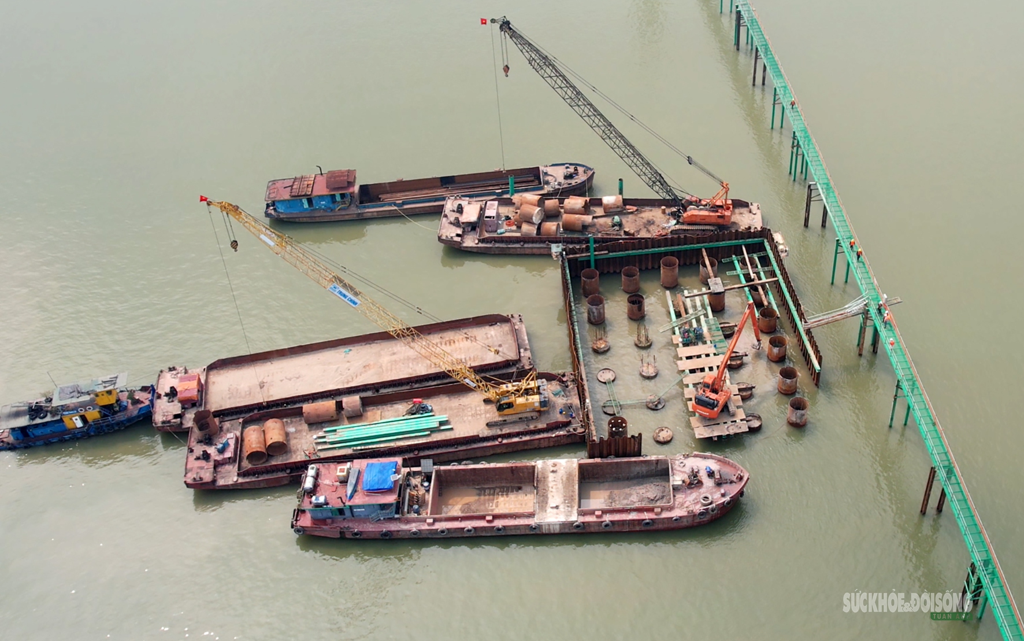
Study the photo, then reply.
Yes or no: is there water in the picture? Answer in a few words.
Yes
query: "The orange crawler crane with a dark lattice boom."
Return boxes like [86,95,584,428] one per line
[491,21,730,236]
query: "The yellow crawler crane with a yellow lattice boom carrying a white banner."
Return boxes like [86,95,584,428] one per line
[209,199,549,429]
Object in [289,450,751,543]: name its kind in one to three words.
vessel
